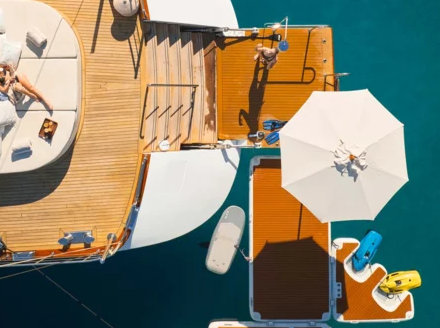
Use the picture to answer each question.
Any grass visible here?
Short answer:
No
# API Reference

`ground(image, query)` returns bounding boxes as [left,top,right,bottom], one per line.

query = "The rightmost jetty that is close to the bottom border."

[332,238,413,322]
